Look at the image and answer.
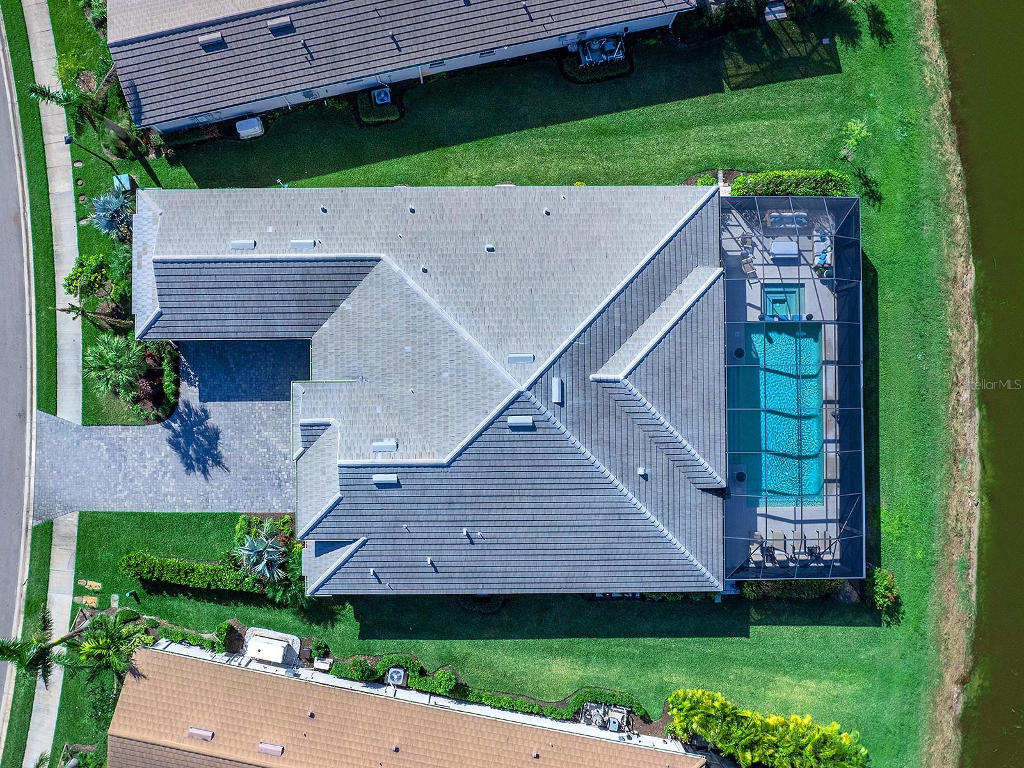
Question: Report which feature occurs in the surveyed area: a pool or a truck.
pool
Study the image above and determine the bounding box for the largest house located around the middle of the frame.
[134,184,728,597]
